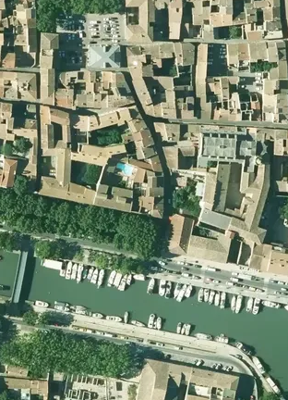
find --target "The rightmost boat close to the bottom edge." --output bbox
[264,374,282,395]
